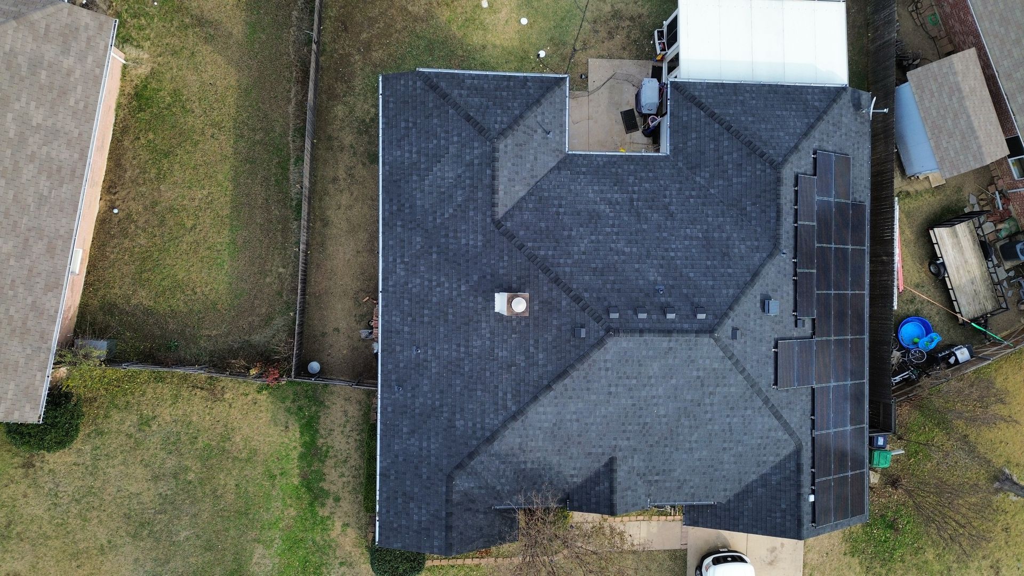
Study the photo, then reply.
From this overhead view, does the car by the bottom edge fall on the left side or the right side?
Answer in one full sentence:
You can find the car by the bottom edge on the right side of the picture.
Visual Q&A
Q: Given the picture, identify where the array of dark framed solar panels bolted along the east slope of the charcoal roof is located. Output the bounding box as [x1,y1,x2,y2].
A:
[774,151,868,528]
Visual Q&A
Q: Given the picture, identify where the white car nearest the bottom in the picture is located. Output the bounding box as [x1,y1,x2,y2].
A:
[697,546,753,576]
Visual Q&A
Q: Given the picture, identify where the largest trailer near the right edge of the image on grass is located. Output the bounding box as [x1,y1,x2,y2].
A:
[928,199,1010,345]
